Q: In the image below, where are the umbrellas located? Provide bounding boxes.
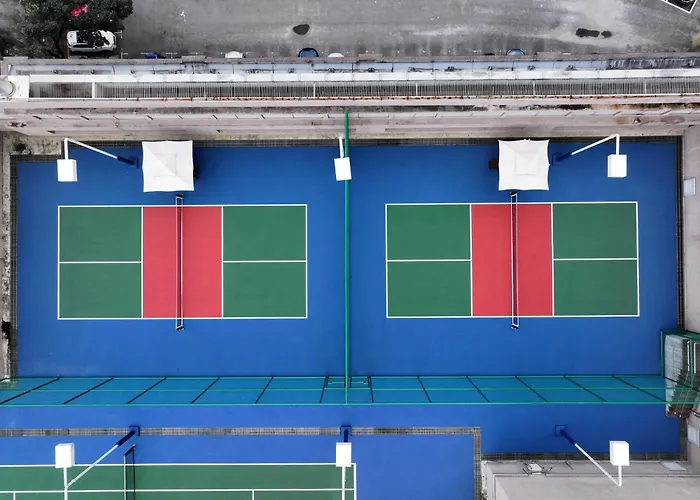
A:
[142,140,196,194]
[496,139,550,192]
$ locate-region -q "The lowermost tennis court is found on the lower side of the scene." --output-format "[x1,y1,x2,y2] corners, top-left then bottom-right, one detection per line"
[0,434,475,500]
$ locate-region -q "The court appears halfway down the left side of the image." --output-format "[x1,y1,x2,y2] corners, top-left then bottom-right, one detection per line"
[17,146,346,380]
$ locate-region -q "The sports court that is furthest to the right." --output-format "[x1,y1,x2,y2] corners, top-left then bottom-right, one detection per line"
[348,144,677,377]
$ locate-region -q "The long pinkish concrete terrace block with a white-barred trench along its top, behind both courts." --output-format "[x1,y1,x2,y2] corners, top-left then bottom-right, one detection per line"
[0,52,700,141]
